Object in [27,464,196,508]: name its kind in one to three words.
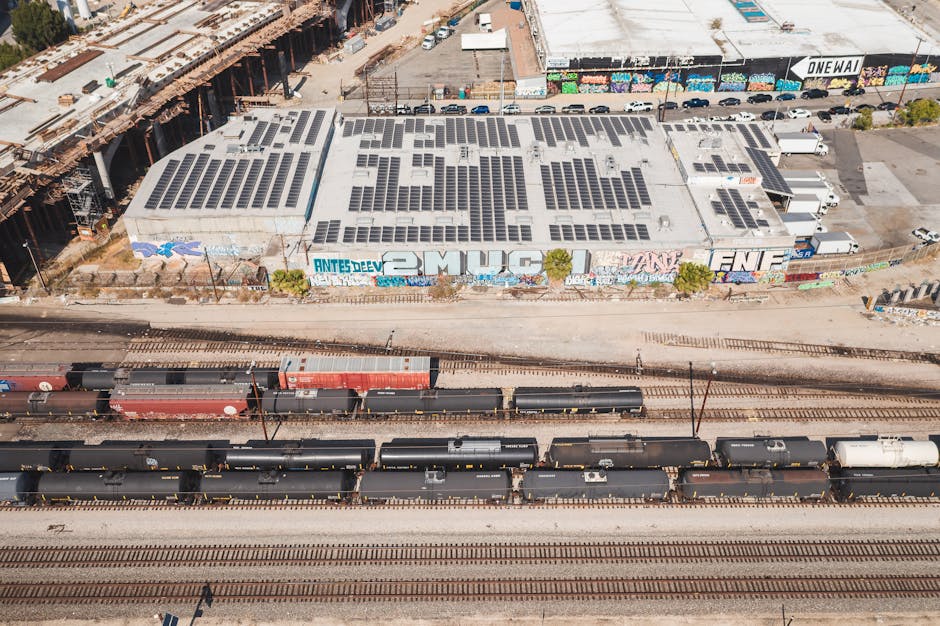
rail car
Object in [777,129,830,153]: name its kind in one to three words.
truck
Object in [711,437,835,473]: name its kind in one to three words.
rail car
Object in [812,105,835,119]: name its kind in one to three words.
car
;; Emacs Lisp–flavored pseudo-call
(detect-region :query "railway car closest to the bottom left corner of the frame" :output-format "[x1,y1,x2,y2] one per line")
[0,472,32,508]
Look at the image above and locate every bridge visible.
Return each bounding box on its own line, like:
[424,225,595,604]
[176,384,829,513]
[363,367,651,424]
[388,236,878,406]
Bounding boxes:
[0,0,350,279]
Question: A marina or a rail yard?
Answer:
rail yard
